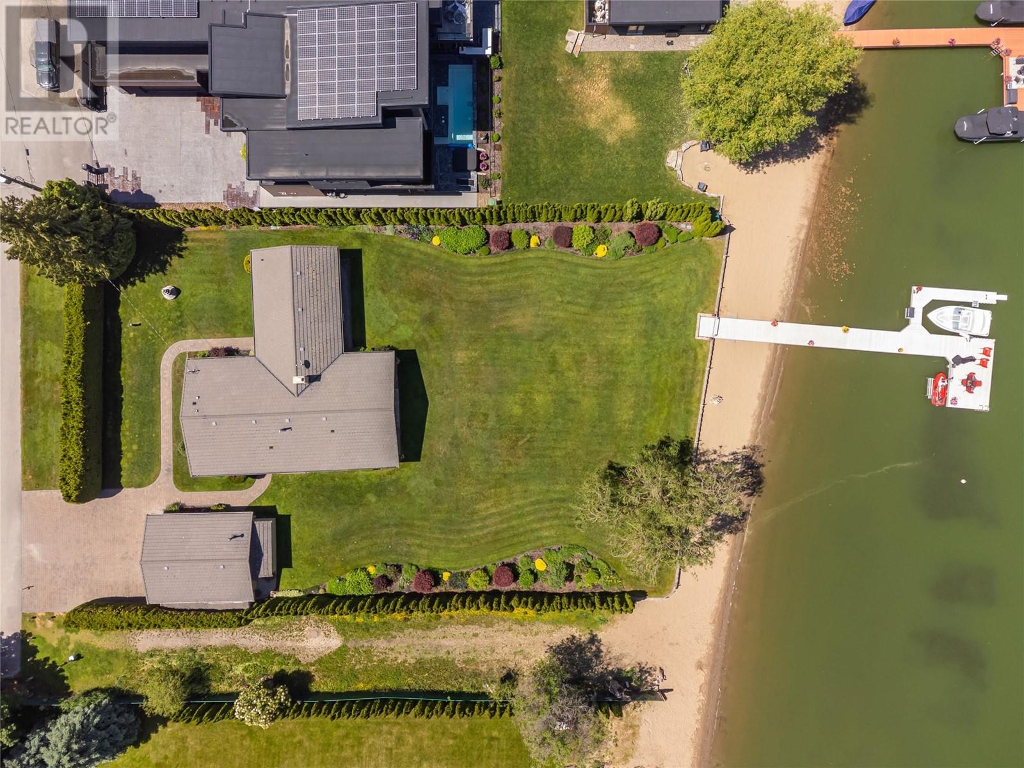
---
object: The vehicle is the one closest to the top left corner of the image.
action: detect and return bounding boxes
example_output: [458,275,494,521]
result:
[30,14,64,87]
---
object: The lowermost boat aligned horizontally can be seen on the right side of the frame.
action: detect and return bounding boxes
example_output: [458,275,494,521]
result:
[930,308,991,336]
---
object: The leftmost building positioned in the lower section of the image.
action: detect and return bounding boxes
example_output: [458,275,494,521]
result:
[140,510,260,606]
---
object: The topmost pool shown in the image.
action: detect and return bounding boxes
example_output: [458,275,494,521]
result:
[434,62,475,144]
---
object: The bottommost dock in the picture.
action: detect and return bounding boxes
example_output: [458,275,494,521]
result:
[695,286,1007,413]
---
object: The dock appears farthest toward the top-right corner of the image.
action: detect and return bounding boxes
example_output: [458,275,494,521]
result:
[842,27,1024,110]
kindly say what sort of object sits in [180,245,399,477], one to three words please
house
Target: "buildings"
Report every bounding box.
[67,0,473,196]
[180,245,399,477]
[583,0,721,40]
[140,510,260,606]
